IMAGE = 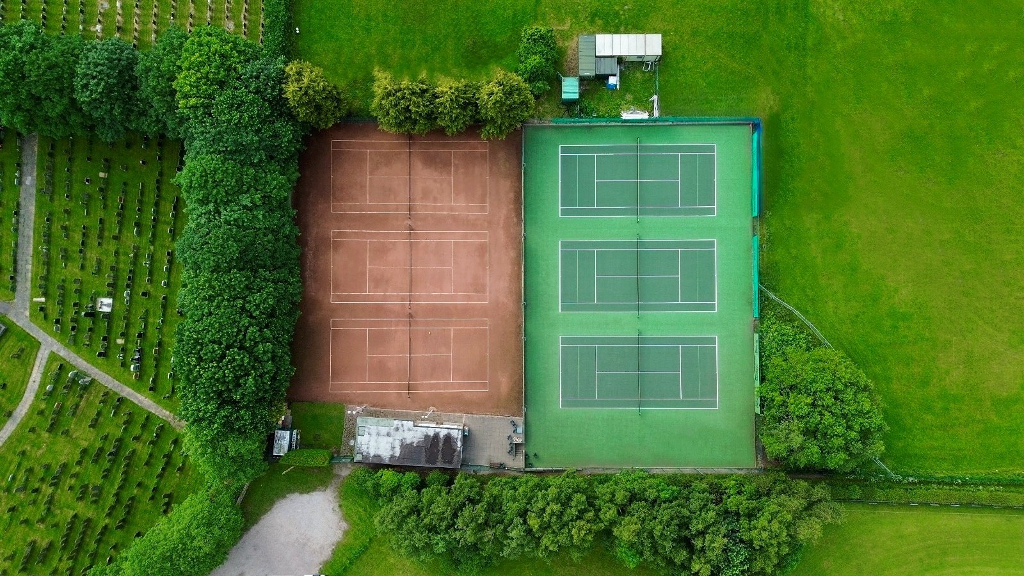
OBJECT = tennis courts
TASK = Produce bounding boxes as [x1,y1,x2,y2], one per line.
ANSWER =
[331,141,488,213]
[330,319,488,392]
[560,240,717,312]
[560,336,718,409]
[560,144,716,216]
[331,231,489,303]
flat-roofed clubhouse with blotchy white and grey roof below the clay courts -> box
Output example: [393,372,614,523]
[352,415,463,469]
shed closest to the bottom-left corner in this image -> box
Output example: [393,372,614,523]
[273,427,294,456]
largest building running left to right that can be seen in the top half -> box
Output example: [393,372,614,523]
[595,34,661,61]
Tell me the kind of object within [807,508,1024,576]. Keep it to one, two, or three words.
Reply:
sports field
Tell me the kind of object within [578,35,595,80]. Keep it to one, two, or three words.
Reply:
shed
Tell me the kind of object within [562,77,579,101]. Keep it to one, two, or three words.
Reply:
shed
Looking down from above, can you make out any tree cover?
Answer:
Yes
